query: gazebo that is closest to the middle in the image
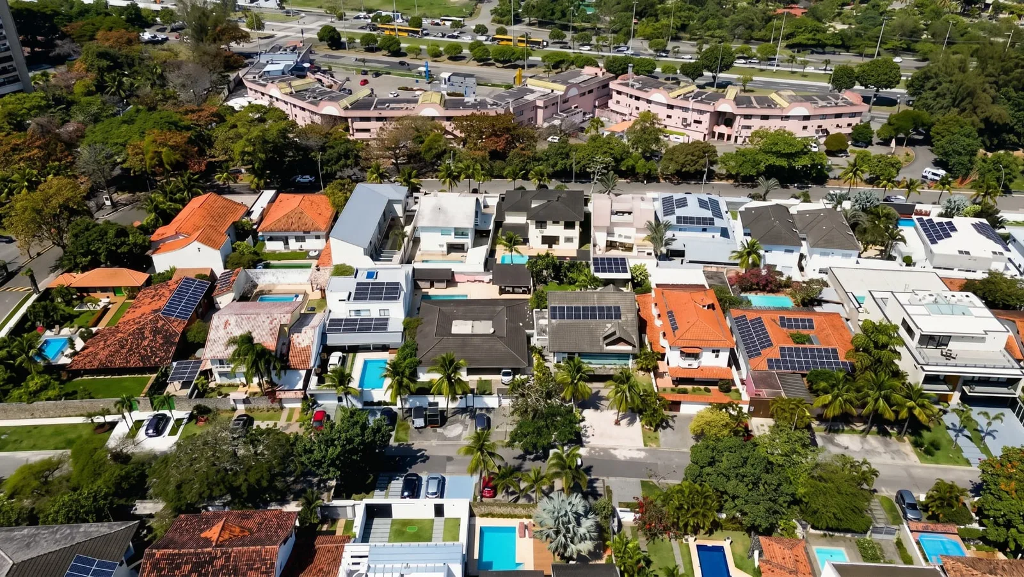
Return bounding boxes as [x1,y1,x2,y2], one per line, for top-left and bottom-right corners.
[493,264,531,299]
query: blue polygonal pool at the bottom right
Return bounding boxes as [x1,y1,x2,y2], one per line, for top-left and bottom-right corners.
[916,533,970,568]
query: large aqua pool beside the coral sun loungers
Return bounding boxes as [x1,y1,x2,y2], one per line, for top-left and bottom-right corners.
[475,525,518,573]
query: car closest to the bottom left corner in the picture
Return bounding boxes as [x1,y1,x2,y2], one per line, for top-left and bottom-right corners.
[138,406,176,437]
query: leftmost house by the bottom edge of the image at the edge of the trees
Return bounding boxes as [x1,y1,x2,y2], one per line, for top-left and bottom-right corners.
[0,520,141,577]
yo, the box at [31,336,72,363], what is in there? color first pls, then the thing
blue swimming pool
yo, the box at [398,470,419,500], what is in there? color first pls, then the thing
black car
